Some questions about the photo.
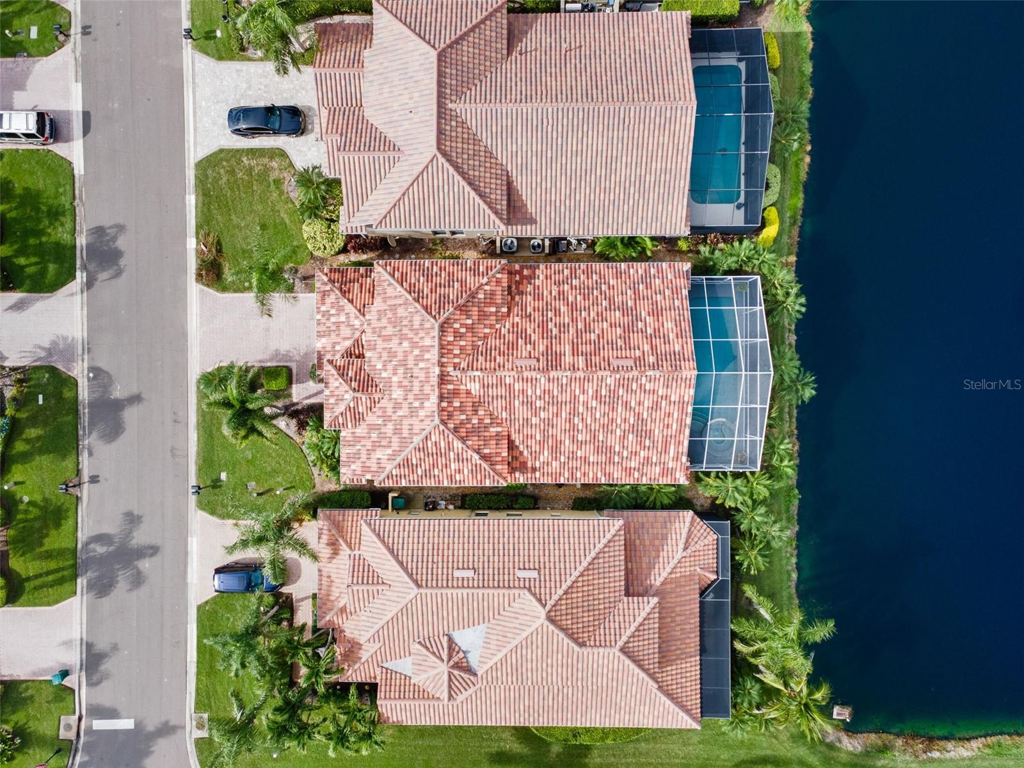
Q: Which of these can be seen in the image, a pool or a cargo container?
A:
pool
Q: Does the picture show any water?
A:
Yes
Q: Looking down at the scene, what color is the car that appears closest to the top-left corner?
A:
white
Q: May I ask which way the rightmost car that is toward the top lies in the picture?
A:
horizontally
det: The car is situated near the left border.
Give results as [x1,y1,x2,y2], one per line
[0,111,56,148]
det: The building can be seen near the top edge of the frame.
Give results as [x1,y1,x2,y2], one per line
[313,0,698,238]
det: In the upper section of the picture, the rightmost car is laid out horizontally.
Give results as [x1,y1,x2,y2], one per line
[228,102,308,140]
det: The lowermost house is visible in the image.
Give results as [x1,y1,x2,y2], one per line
[315,507,719,732]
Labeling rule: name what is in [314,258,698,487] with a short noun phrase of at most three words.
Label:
house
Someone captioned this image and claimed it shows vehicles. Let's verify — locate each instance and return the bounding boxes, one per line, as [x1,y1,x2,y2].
[228,102,308,140]
[0,111,56,148]
[211,562,285,598]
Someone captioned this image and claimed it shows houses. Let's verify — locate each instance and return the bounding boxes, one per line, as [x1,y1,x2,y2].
[315,507,719,732]
[314,258,698,487]
[313,0,698,238]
